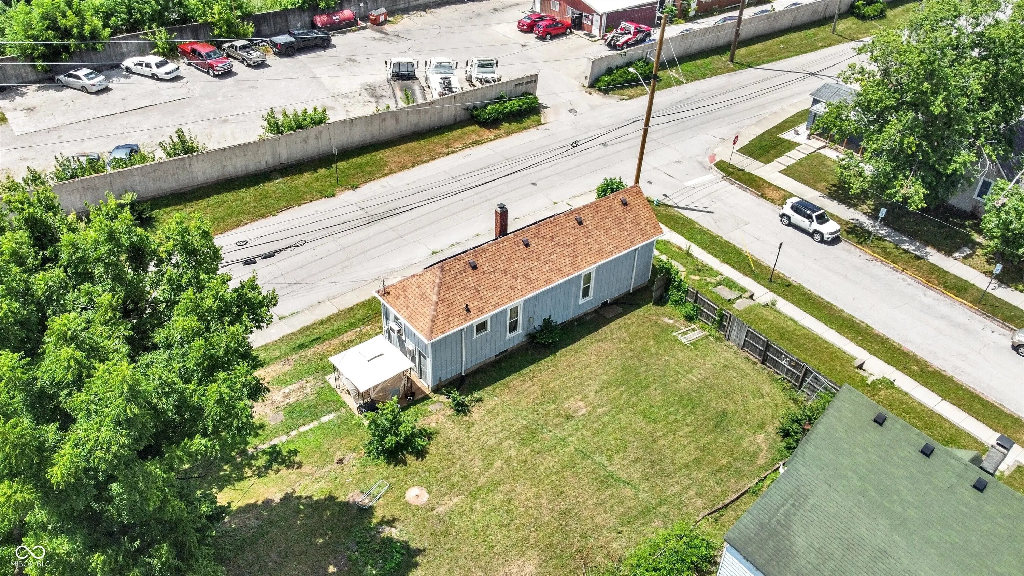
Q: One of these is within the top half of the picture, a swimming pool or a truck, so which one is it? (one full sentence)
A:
What appears within the top half of the picture is a truck.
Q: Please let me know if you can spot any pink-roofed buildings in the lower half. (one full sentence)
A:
No, I see no pink-roofed building in the lower half.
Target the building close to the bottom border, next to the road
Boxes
[718,382,1024,576]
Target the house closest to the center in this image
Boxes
[371,185,669,390]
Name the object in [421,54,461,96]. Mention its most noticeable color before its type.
white truck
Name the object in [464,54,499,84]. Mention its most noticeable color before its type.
white truck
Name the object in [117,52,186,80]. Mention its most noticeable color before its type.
white car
